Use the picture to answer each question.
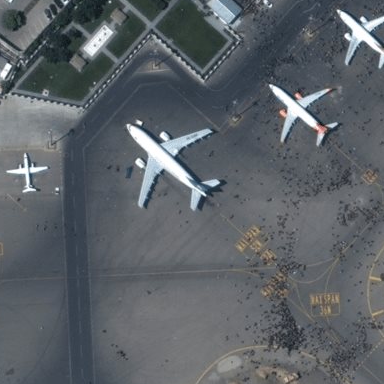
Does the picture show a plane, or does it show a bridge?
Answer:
plane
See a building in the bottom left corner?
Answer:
No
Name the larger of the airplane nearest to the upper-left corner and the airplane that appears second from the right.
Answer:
the airplane that appears second from the right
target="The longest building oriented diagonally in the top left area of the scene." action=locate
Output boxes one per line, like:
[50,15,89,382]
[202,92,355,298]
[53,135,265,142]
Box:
[84,25,113,58]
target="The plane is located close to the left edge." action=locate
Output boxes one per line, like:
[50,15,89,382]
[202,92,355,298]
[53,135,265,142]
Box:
[4,153,49,194]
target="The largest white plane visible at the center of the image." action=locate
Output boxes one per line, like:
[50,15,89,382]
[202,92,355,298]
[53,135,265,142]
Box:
[127,124,220,210]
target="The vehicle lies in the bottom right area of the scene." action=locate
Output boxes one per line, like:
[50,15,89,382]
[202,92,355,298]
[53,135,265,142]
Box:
[283,371,301,383]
